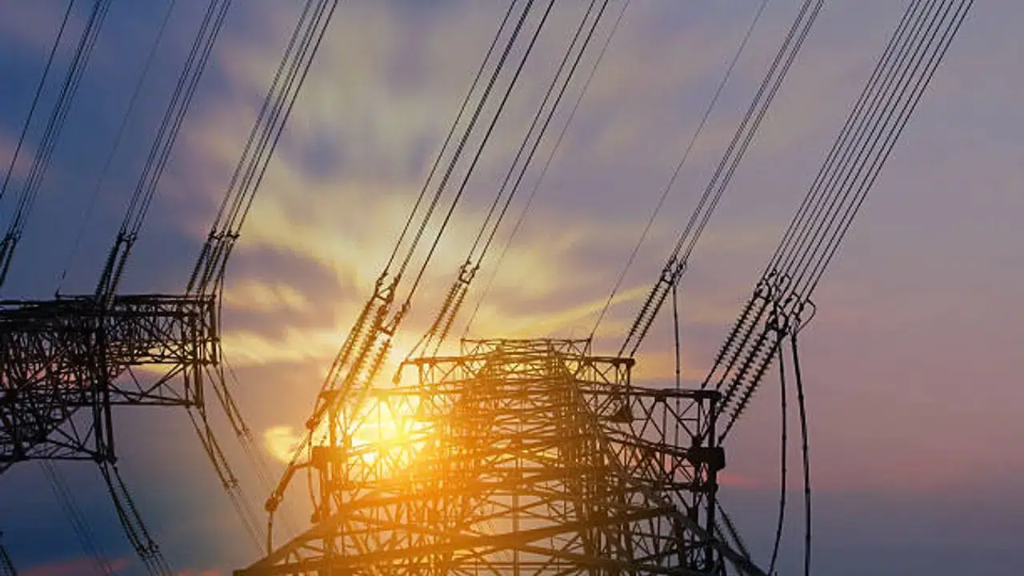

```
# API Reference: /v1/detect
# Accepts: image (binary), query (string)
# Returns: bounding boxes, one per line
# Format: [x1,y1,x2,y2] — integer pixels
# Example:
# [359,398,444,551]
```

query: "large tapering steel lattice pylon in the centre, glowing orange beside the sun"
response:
[223,331,772,576]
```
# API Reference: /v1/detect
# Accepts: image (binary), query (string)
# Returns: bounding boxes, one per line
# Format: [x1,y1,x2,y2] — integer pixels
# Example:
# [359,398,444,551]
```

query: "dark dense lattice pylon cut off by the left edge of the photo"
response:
[0,294,222,487]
